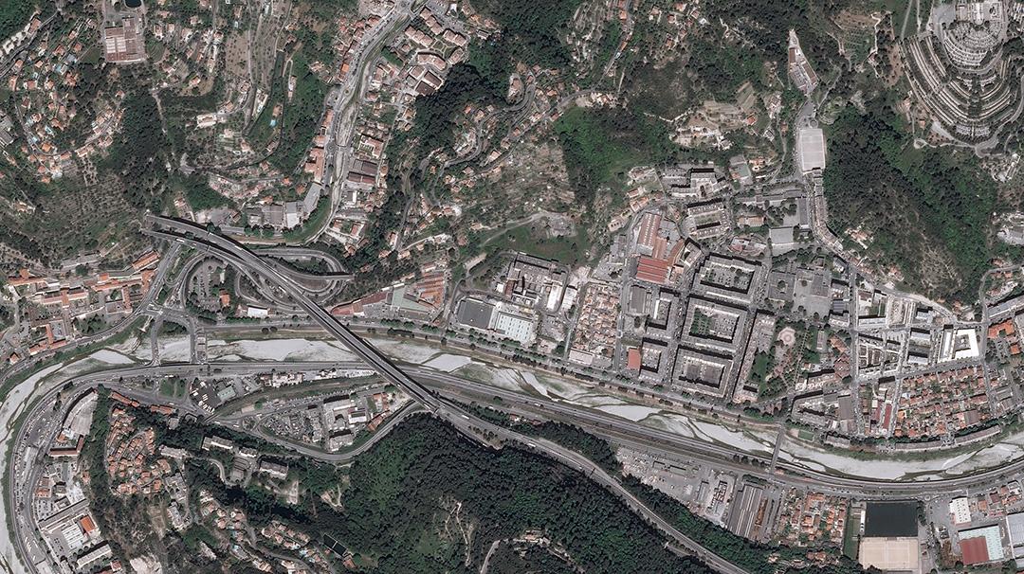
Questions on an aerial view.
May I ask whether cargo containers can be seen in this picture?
No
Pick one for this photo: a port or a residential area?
residential area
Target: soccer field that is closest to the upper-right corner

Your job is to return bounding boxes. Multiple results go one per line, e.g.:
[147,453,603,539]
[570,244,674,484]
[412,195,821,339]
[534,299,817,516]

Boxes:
[800,129,825,170]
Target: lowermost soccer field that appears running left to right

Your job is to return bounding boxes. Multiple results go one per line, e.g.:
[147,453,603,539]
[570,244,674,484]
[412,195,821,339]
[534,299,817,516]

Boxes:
[859,539,918,568]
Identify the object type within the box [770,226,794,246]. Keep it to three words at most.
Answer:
building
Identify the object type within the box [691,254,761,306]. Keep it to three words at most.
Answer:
building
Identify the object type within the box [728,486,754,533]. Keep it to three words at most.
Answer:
shed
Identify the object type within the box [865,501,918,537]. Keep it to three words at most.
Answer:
soccer field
